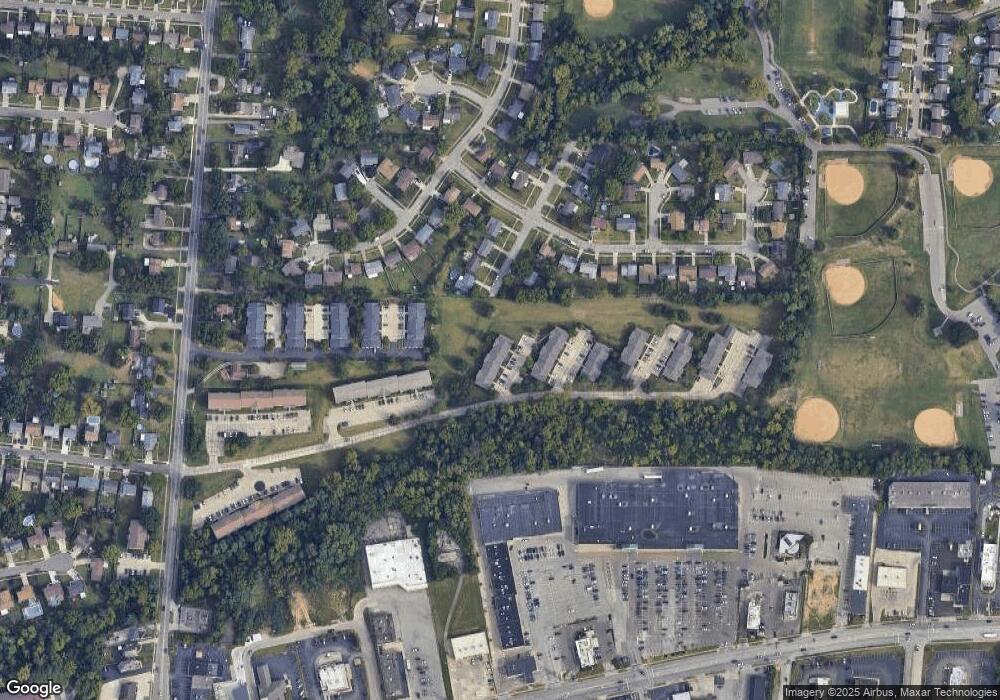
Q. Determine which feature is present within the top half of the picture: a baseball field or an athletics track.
baseball field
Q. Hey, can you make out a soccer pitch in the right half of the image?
Yes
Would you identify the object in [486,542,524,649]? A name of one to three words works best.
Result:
building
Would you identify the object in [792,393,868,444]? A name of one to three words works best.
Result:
baseball field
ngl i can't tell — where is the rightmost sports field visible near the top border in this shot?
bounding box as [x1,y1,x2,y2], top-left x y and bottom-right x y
[783,0,846,61]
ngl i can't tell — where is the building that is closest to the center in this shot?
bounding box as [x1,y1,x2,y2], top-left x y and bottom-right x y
[475,336,514,389]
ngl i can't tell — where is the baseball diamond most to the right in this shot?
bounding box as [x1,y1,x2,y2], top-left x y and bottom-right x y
[947,154,1000,228]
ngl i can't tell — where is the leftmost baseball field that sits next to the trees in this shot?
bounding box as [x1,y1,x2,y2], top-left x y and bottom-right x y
[566,0,669,36]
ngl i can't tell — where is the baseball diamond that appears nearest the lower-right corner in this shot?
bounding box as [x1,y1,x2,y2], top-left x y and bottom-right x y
[893,393,963,449]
